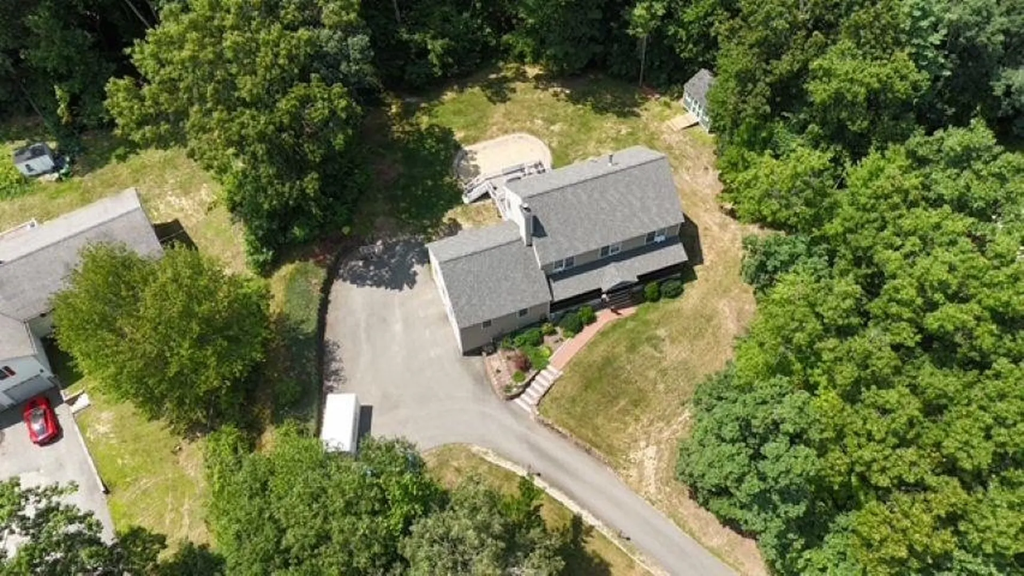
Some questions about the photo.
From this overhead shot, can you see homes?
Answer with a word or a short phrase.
Yes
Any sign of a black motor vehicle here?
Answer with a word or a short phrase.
No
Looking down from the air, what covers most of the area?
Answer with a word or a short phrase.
trees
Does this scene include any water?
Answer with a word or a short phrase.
No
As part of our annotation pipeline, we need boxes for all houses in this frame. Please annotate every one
[426,147,688,353]
[0,188,163,408]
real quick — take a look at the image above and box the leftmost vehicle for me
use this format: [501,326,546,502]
[19,394,59,452]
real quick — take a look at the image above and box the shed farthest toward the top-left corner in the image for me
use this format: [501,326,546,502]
[5,136,54,176]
